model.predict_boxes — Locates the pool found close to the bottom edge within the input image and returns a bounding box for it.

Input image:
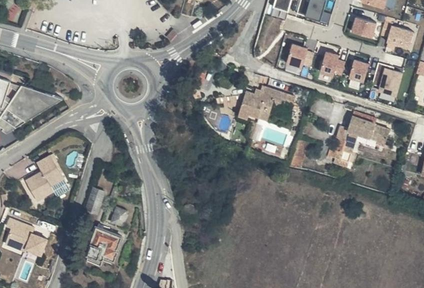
[19,260,34,282]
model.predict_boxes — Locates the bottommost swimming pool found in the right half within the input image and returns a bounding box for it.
[260,127,287,146]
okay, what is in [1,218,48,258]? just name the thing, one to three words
house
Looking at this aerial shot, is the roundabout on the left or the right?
left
